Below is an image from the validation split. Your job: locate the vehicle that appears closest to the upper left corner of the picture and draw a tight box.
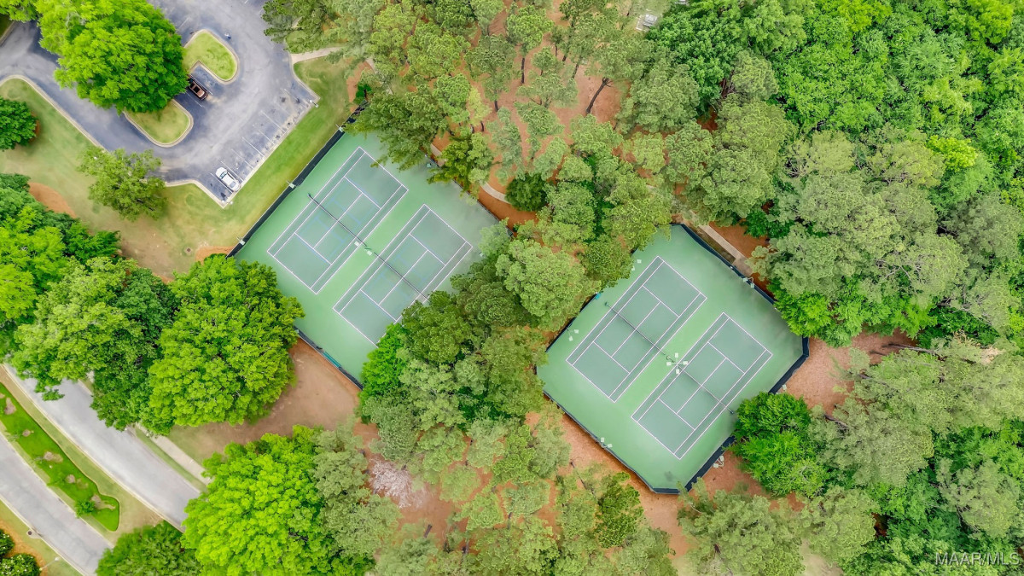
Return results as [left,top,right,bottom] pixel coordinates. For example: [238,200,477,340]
[185,75,212,101]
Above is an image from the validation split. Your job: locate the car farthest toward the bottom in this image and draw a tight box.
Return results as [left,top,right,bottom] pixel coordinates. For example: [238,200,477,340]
[217,167,242,193]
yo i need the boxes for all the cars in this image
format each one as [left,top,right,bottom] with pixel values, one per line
[185,75,212,101]
[217,167,242,193]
